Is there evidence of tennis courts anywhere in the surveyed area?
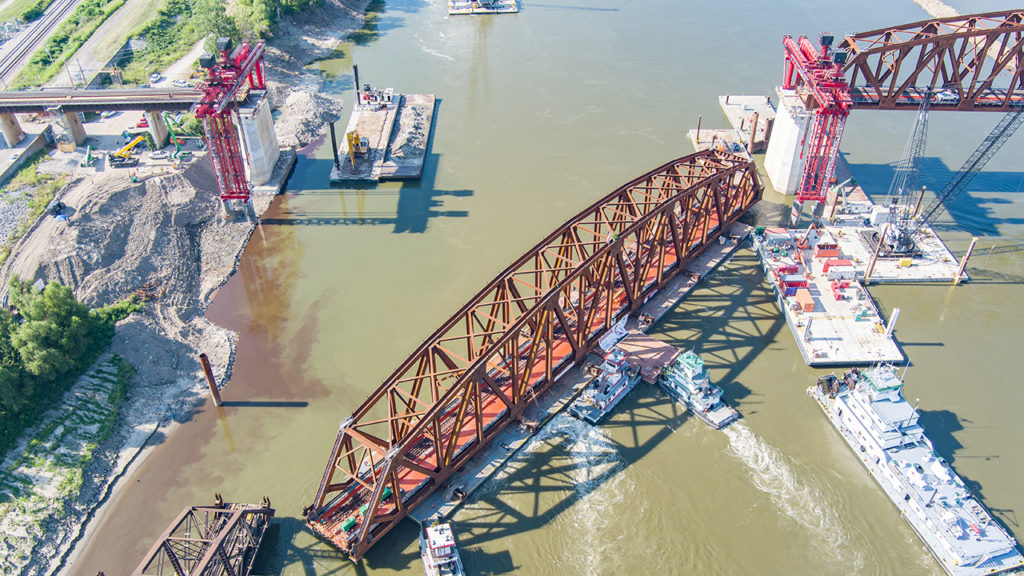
No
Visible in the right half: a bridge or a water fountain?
bridge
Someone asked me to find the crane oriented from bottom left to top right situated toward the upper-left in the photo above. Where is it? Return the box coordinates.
[100,125,150,167]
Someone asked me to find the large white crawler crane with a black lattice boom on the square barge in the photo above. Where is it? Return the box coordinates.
[854,48,1024,257]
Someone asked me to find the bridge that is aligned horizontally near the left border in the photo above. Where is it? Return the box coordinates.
[0,80,238,150]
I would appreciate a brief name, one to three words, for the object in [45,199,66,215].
vehicle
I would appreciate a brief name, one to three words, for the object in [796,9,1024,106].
bridge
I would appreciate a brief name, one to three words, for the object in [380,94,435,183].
ship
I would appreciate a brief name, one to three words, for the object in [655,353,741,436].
boat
